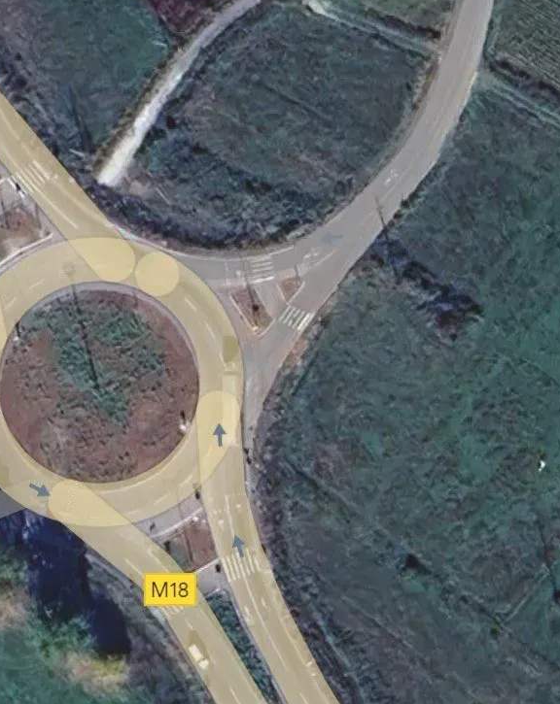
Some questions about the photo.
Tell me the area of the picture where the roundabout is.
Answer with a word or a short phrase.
left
